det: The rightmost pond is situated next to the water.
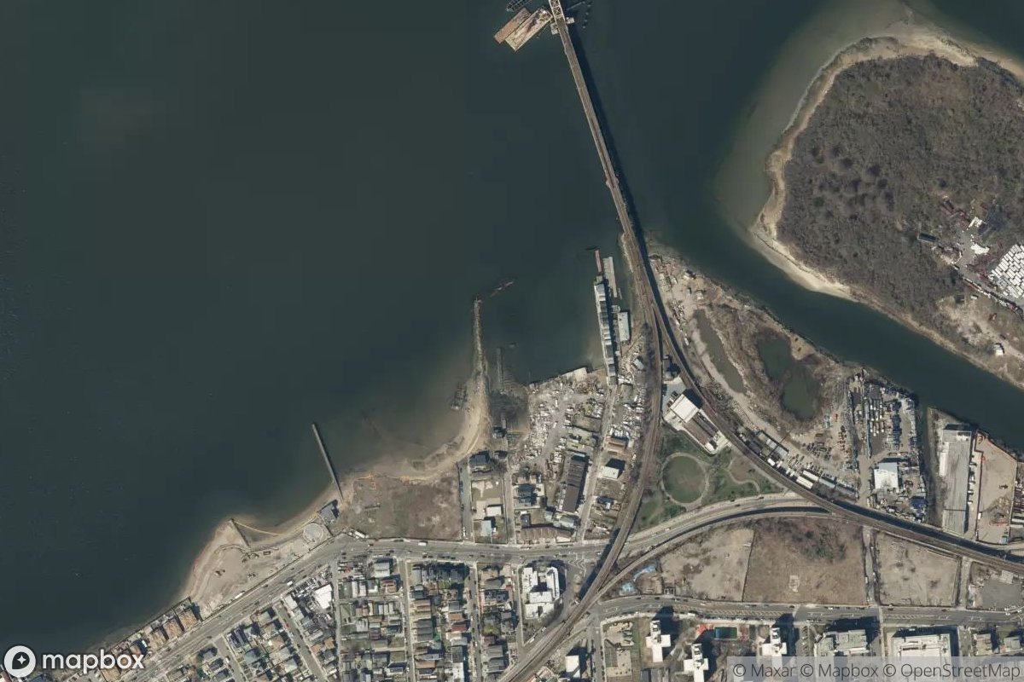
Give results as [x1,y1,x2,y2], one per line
[759,333,820,418]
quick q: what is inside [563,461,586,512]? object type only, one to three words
building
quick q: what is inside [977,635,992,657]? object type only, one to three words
house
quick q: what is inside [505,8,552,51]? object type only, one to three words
ship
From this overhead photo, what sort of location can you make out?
port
